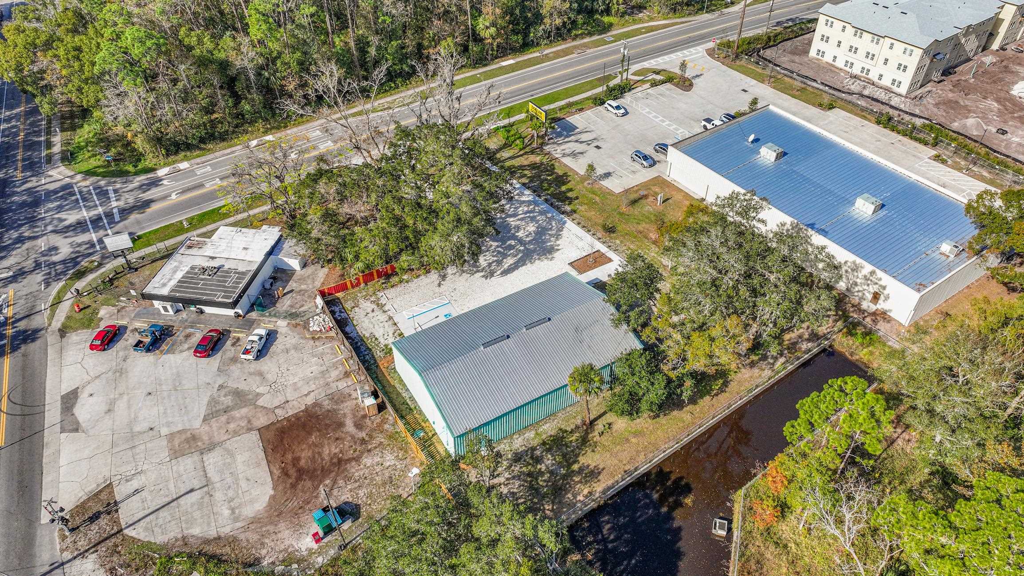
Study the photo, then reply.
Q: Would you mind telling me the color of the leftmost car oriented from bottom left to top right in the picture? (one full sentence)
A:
In this view, the leftmost car oriented from bottom left to top right is red.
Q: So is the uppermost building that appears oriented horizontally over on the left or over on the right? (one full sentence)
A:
It is on the right.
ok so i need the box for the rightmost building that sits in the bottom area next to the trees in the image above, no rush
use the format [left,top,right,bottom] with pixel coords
[389,269,648,459]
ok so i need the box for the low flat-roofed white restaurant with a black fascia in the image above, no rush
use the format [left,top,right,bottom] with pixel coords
[141,226,314,314]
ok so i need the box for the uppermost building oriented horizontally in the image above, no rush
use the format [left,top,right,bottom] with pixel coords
[809,0,1024,95]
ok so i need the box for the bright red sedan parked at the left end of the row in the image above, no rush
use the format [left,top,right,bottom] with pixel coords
[86,323,120,352]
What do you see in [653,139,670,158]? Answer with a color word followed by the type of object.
gray car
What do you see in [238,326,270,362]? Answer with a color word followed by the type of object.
white truck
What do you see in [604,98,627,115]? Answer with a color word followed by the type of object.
white car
